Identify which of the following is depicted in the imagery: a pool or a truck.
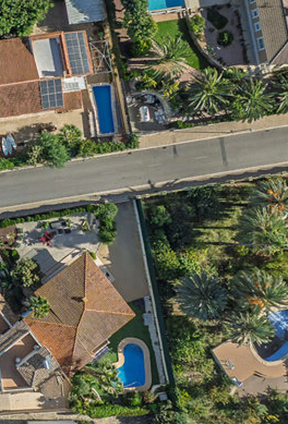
pool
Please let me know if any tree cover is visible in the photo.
Yes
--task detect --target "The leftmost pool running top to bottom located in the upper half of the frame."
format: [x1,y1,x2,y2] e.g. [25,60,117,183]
[91,84,117,135]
